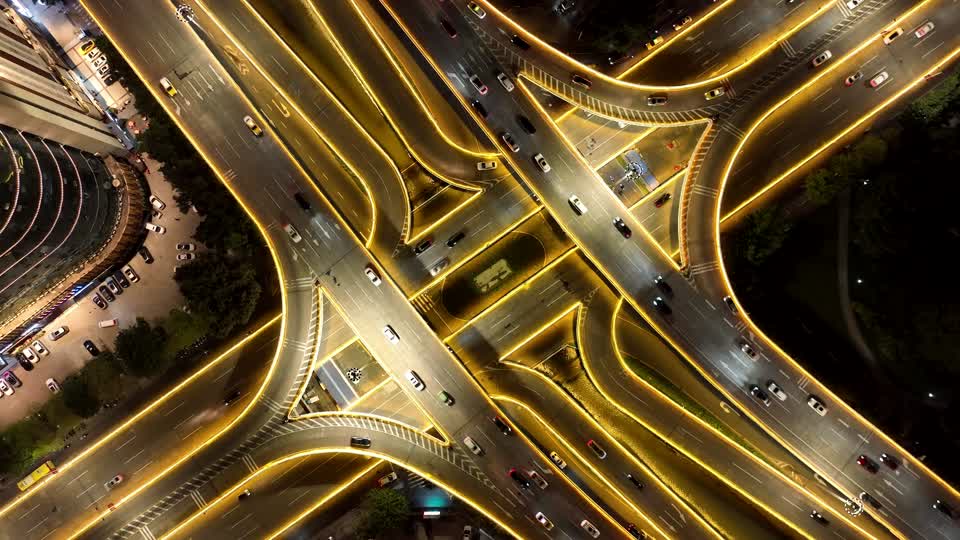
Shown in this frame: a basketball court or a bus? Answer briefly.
bus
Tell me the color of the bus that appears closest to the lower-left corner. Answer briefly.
yellow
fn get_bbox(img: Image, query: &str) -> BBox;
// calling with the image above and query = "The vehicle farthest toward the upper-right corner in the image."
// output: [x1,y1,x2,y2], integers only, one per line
[918,21,938,36]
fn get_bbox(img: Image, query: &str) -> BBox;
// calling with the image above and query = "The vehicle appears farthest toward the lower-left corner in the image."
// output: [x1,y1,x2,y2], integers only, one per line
[7,458,54,495]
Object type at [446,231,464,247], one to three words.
car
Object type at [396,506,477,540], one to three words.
building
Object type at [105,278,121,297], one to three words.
car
